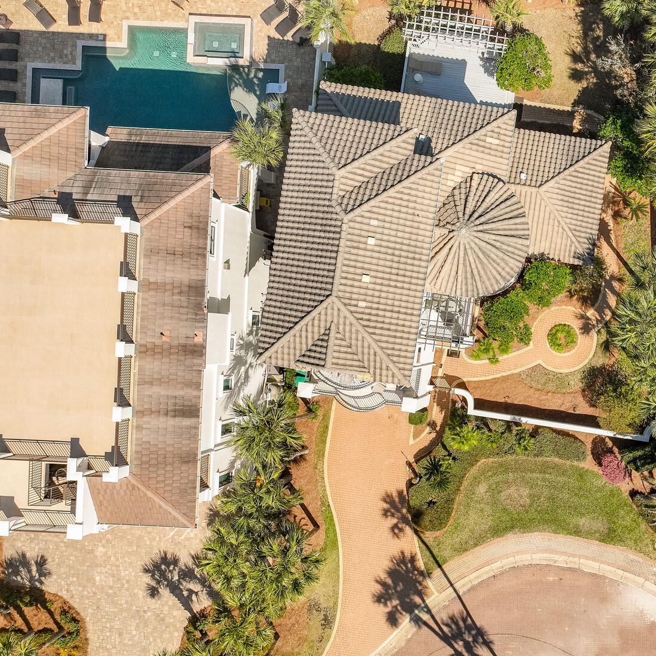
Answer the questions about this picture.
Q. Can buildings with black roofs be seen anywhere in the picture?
No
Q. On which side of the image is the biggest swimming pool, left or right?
left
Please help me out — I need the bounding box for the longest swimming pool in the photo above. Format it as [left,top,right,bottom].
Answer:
[26,20,283,147]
